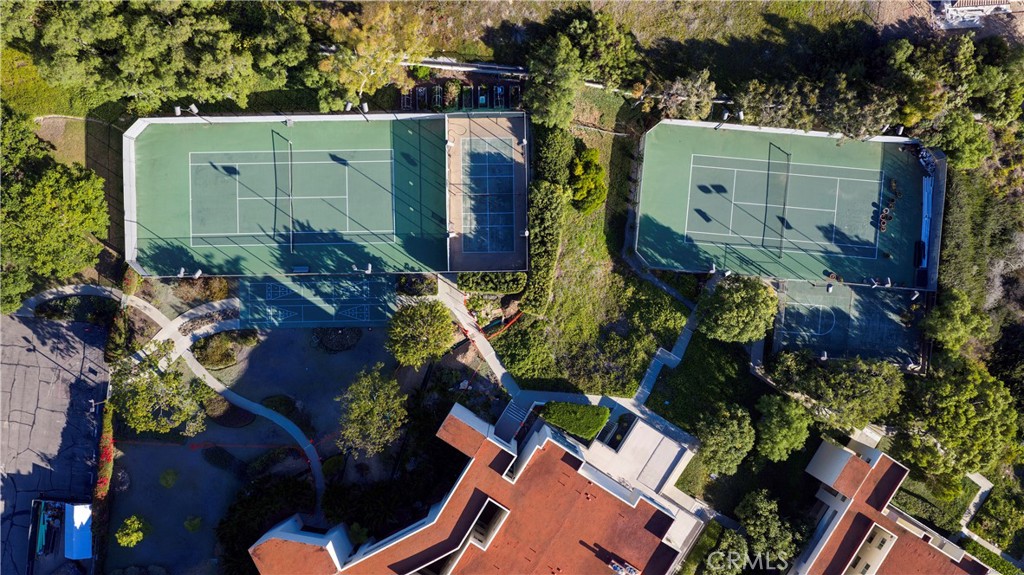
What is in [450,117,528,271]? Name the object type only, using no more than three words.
tennis court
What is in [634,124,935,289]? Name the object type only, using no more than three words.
tennis court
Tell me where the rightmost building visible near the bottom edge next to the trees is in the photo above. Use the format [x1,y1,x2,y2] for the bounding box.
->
[766,438,999,575]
